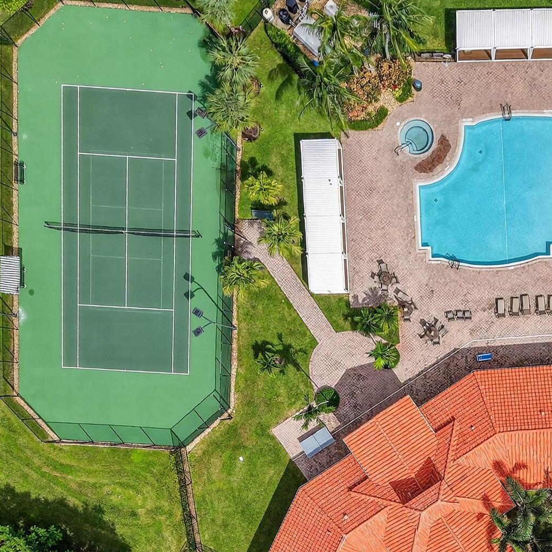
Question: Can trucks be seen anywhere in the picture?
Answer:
No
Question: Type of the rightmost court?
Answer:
tennis court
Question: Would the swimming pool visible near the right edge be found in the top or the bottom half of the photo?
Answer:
top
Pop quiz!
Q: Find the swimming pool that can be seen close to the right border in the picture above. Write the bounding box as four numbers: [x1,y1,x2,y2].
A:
[414,105,552,271]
